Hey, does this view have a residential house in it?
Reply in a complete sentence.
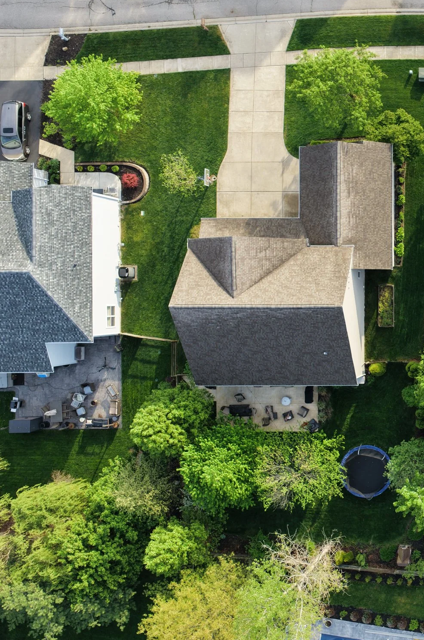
Yes, looking at the shot, I can spot a residential house.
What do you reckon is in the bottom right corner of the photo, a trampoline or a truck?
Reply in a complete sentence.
You can see a trampoline in the bottom right corner of the photo.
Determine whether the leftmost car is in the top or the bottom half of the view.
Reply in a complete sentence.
You can find the leftmost car in the top half.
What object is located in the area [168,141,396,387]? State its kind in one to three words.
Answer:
house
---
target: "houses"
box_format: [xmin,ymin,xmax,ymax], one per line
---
[168,141,396,387]
[0,161,122,374]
